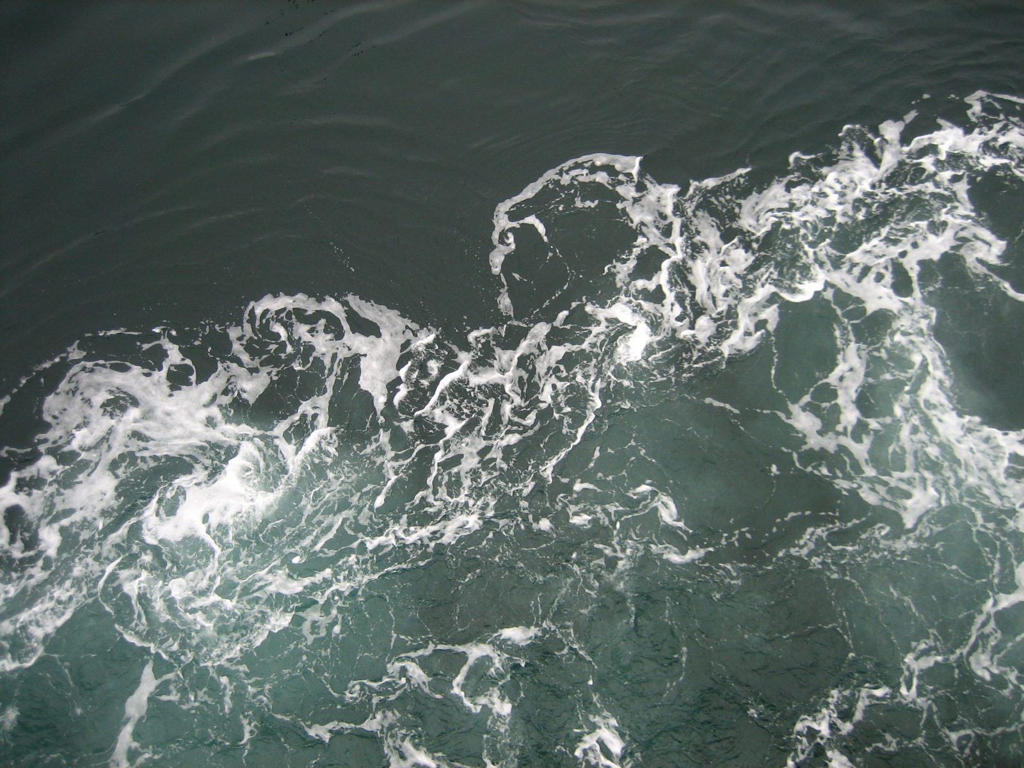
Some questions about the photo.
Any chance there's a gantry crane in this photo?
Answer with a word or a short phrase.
No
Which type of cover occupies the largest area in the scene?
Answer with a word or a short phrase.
water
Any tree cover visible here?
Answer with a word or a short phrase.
No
